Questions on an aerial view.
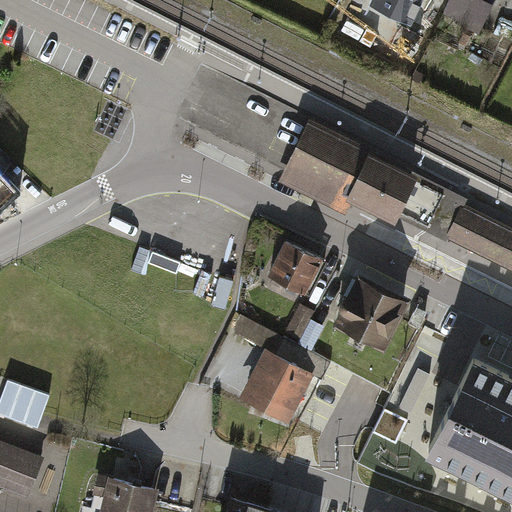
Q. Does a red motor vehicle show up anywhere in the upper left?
Yes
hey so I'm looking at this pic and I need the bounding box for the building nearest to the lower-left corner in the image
[0,440,44,498]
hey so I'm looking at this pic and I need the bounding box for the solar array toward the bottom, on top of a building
[448,432,512,478]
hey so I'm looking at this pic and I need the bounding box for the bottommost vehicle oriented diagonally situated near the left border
[22,179,44,202]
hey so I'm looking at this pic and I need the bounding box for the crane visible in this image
[326,0,416,65]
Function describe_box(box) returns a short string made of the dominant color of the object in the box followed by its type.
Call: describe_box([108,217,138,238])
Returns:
white vehicle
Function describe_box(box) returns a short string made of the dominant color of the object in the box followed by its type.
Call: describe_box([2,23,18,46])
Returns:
red car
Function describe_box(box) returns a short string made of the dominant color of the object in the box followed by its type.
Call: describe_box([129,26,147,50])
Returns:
gray car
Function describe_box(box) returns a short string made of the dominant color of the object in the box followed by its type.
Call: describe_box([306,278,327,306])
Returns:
white vehicle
